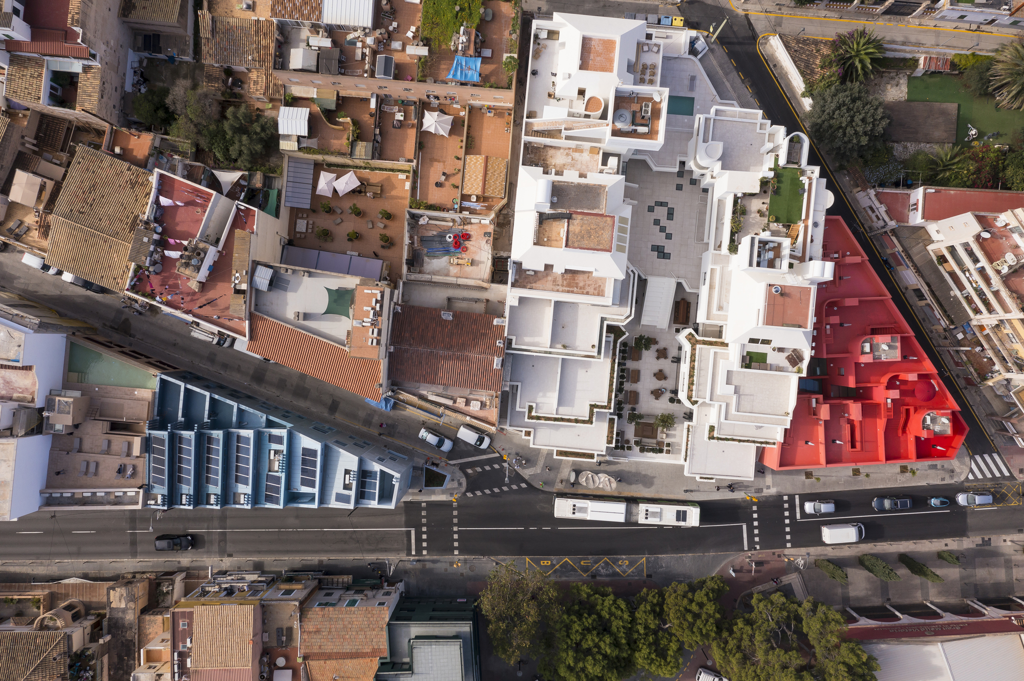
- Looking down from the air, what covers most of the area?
buildings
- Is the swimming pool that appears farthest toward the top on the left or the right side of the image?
right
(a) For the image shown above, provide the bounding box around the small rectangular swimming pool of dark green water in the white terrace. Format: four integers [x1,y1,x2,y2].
[667,95,695,116]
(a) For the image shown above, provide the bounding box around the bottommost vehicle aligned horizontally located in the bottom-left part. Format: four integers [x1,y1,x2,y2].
[152,535,193,554]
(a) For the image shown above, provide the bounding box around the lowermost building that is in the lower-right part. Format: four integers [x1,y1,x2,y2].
[812,594,1024,681]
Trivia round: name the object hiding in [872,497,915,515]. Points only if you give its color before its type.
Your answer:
black vehicle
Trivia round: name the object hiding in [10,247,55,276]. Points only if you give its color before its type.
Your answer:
white van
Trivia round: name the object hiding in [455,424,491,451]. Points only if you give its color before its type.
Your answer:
white vehicle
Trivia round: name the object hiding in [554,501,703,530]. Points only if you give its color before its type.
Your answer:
white bus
